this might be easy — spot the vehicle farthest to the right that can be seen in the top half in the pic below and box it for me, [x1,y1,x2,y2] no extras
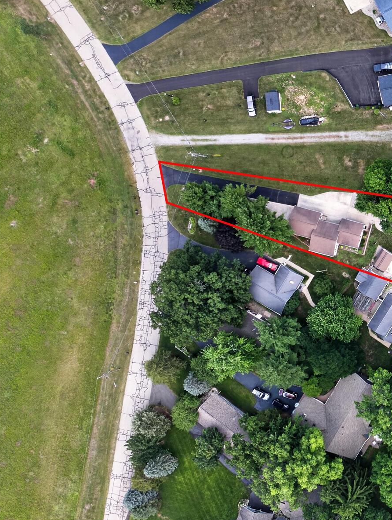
[372,60,392,73]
